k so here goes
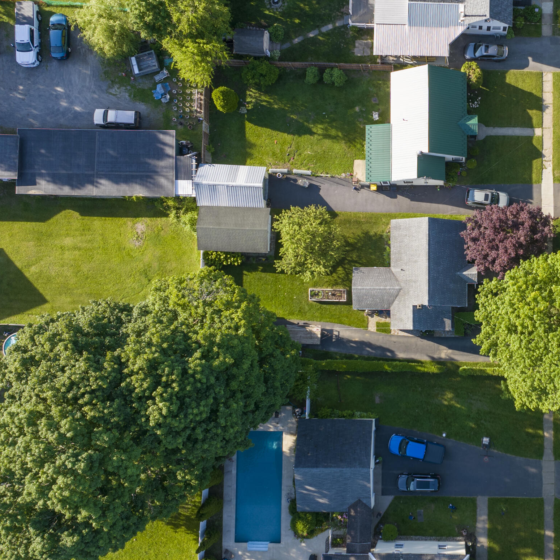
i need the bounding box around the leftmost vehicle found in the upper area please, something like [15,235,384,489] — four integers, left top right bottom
[15,3,43,67]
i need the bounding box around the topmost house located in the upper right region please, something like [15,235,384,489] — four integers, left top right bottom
[372,0,512,64]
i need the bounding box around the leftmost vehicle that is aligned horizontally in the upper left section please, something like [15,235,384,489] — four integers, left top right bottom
[93,106,142,130]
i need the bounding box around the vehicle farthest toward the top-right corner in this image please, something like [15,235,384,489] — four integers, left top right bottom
[464,41,508,64]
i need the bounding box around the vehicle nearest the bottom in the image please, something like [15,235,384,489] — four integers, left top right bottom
[397,472,441,494]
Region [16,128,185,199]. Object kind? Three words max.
building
